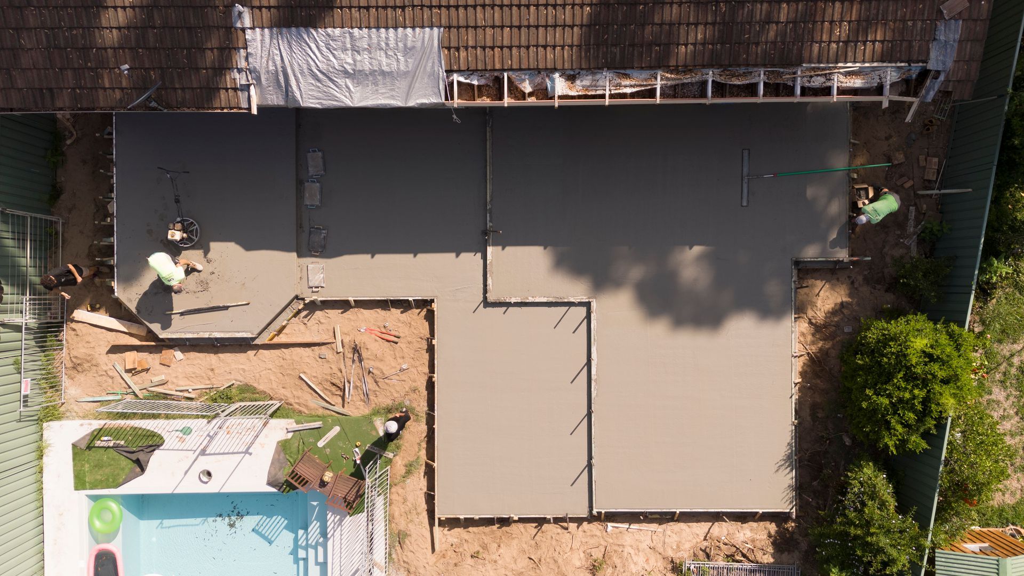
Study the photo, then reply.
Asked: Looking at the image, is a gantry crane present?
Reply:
No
